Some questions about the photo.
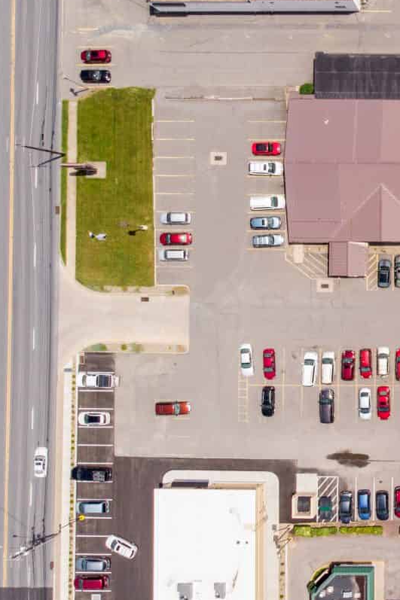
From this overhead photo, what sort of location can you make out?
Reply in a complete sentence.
The area seen from above is a parking lot.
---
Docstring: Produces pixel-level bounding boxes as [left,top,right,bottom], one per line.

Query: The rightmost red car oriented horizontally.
[252,141,281,155]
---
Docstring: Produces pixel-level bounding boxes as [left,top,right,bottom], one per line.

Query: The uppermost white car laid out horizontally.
[248,160,282,175]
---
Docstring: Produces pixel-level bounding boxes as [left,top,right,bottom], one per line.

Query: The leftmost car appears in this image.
[32,446,49,478]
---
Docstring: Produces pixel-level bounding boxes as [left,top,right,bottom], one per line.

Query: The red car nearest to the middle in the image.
[161,232,193,246]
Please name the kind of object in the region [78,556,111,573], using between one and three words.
car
